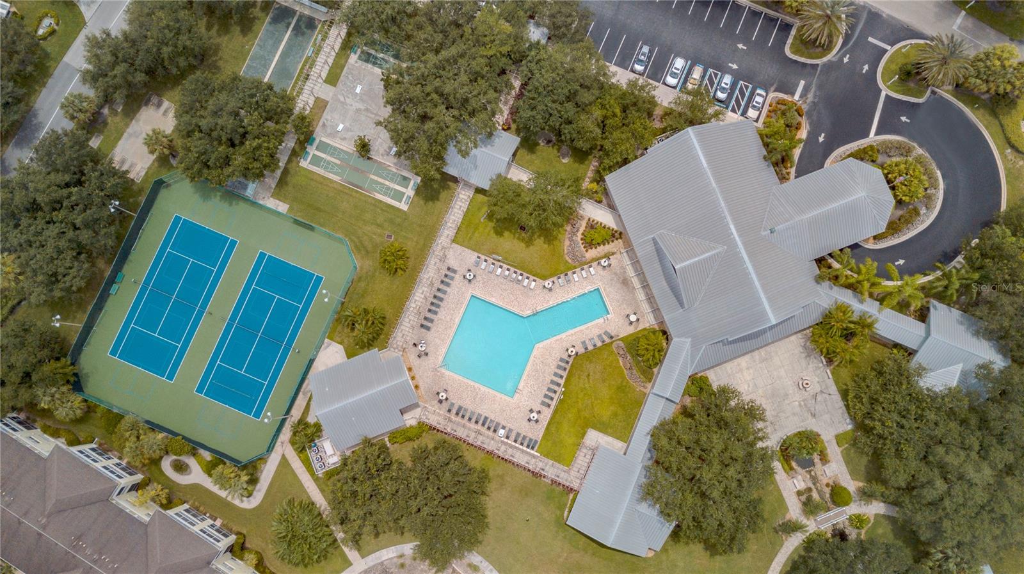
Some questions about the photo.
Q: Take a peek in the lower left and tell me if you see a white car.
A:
No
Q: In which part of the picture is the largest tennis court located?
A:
left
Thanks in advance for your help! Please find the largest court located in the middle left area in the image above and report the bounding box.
[79,177,357,462]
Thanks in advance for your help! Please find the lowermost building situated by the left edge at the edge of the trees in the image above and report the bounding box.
[0,413,257,574]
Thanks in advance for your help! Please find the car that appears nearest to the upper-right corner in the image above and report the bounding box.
[746,89,767,120]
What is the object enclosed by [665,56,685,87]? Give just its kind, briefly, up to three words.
car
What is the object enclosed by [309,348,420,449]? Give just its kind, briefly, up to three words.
building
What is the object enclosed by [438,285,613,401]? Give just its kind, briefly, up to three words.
swimming pool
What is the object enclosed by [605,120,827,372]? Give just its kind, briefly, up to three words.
building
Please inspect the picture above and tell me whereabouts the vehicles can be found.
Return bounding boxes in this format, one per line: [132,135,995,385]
[714,73,733,102]
[746,89,767,120]
[665,56,685,87]
[684,64,704,93]
[633,45,651,74]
